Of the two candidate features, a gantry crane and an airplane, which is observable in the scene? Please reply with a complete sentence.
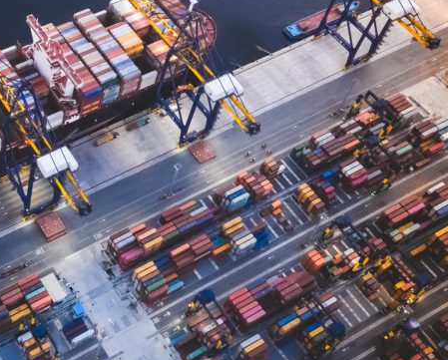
The image shows a gantry crane.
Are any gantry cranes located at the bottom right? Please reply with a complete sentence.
Yes, there is a gantry crane at the bottom right.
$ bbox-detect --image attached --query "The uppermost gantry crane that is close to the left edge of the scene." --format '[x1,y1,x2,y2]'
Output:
[0,57,98,220]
